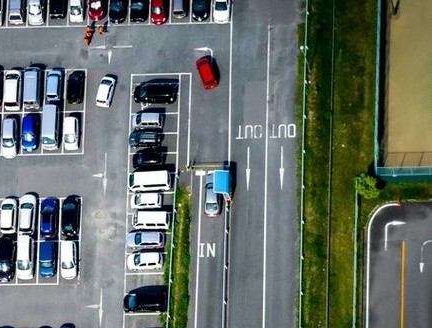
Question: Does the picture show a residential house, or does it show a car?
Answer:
car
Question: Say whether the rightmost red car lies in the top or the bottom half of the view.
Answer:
top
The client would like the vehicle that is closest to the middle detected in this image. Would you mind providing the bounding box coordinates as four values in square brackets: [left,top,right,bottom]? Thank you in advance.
[205,176,222,215]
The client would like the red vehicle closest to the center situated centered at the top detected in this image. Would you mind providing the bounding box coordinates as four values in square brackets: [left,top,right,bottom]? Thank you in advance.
[198,59,220,93]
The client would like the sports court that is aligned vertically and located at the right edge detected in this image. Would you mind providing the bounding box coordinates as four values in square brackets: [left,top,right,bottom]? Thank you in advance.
[380,0,432,182]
